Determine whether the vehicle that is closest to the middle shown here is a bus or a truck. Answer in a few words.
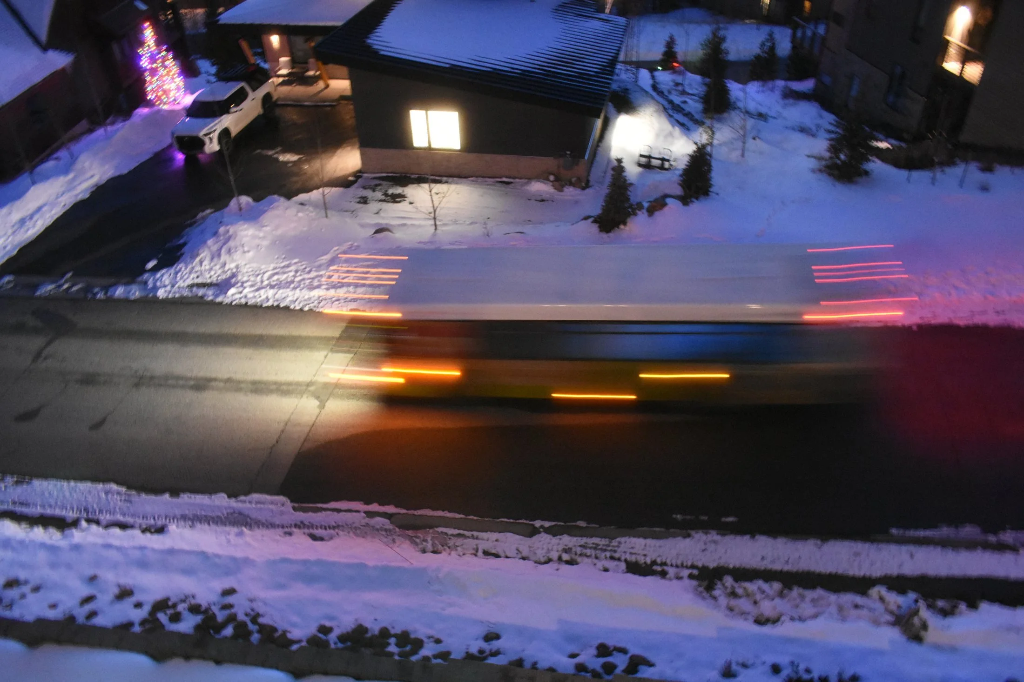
bus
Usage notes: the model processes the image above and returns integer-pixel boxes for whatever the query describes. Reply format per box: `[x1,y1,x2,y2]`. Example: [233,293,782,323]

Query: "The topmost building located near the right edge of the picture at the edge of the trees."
[793,0,1024,143]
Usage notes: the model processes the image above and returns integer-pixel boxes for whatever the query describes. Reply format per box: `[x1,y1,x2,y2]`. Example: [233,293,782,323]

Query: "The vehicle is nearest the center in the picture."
[342,254,870,412]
